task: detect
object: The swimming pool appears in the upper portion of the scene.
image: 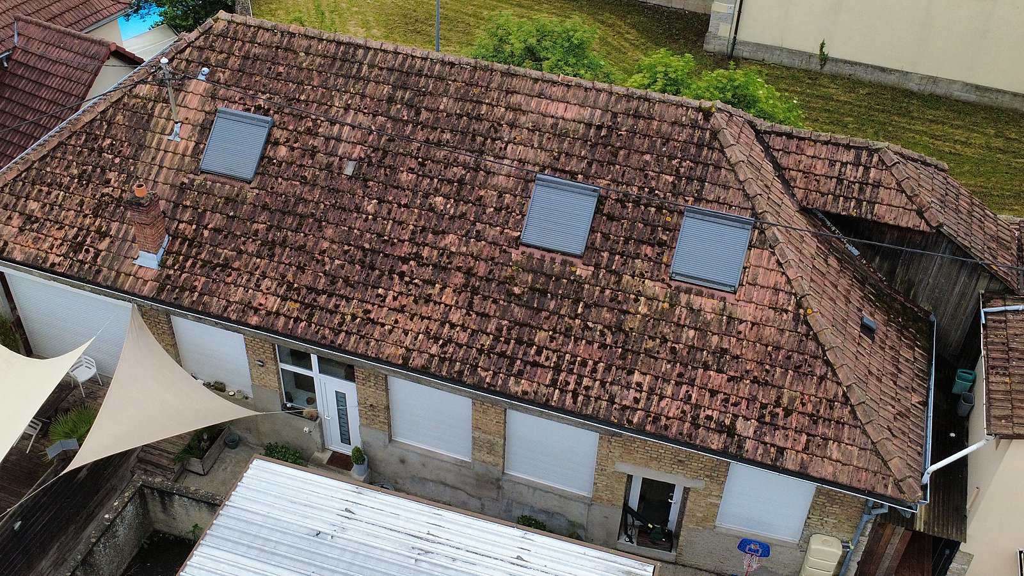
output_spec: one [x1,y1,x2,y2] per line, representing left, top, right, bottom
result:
[110,0,203,43]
